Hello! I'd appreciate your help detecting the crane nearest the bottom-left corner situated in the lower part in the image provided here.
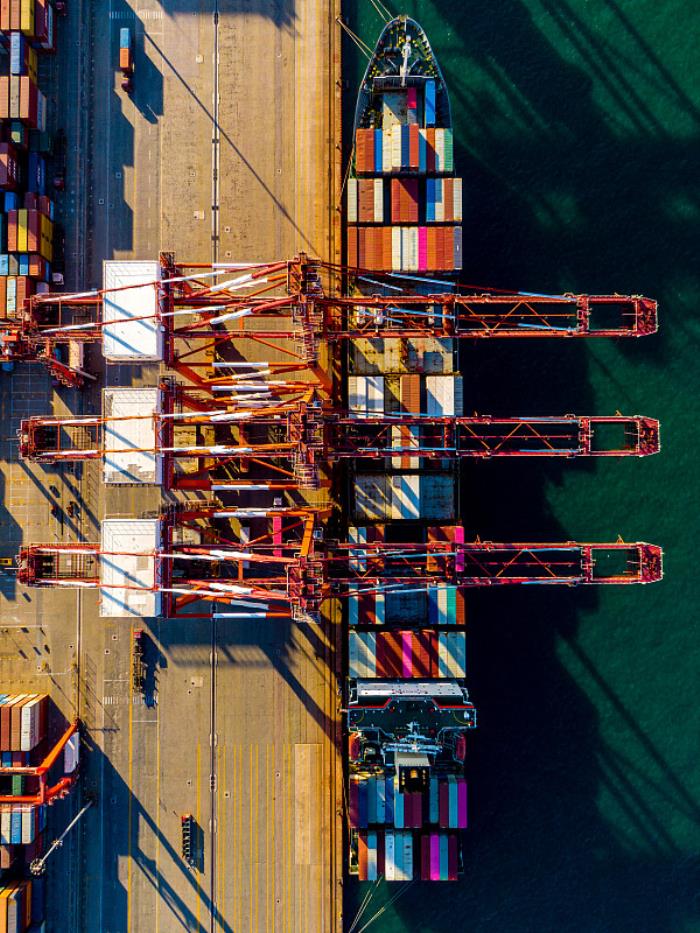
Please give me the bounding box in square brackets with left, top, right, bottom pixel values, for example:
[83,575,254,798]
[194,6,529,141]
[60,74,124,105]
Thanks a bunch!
[0,730,78,808]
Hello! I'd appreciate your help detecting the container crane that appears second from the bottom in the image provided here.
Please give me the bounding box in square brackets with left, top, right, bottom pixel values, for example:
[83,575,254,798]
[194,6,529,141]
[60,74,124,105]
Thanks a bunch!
[4,497,665,628]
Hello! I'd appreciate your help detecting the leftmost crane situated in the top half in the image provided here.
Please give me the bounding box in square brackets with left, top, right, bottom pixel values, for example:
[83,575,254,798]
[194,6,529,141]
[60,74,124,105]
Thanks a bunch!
[0,325,86,380]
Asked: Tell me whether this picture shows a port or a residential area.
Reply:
port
